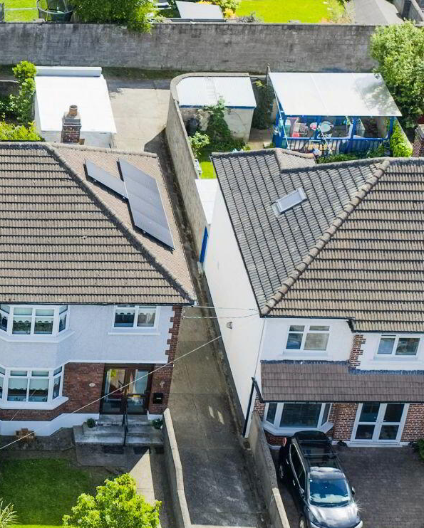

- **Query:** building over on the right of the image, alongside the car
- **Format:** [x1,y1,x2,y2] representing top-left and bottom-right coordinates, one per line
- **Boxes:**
[198,145,424,457]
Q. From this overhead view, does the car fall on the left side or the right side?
right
